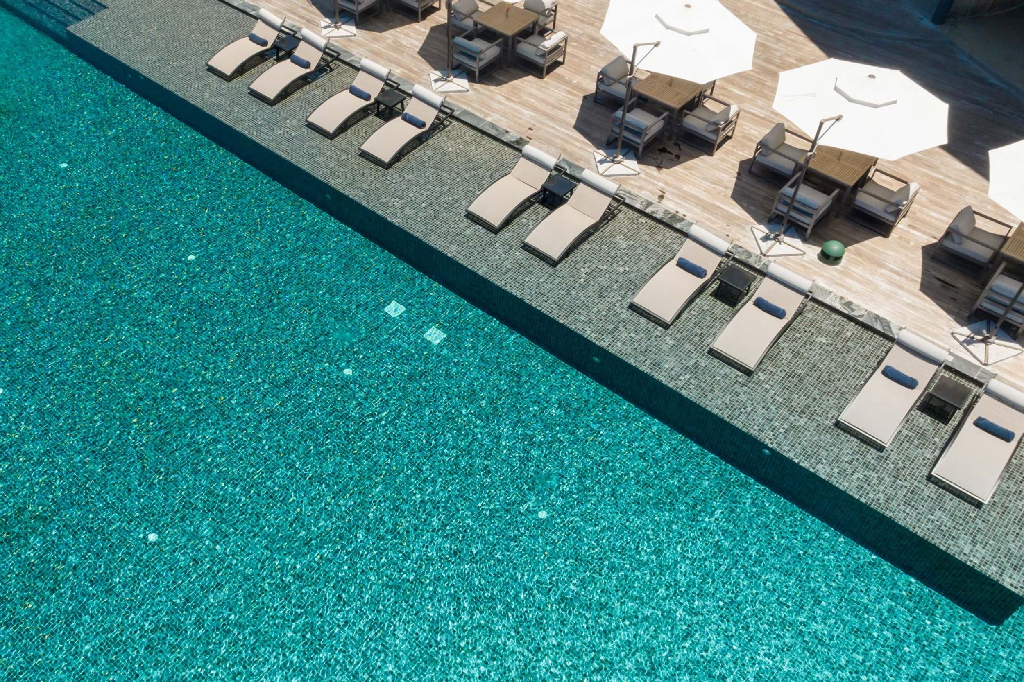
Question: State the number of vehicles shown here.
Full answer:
The count of vehicles is 0.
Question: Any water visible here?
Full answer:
Yes, water shows up in the scene.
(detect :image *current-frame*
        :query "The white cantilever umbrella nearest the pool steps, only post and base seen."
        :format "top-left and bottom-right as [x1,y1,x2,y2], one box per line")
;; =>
[322,0,356,37]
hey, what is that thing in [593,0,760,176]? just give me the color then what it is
white umbrella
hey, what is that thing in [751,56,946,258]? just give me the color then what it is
white umbrella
